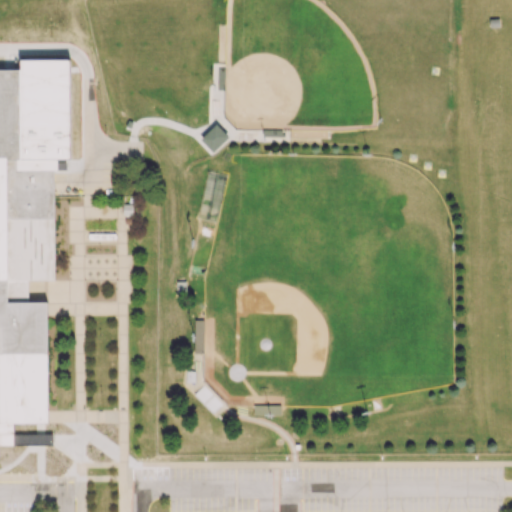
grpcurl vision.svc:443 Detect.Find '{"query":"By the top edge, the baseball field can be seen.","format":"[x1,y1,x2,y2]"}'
[219,0,378,142]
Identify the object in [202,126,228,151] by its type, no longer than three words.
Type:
building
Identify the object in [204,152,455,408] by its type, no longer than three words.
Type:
baseball field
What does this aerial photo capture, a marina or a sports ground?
sports ground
